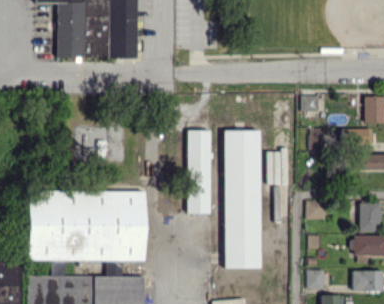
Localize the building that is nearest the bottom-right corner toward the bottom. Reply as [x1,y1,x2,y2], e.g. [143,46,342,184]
[352,270,384,291]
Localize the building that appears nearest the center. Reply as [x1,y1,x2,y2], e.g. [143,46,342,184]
[187,130,212,214]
